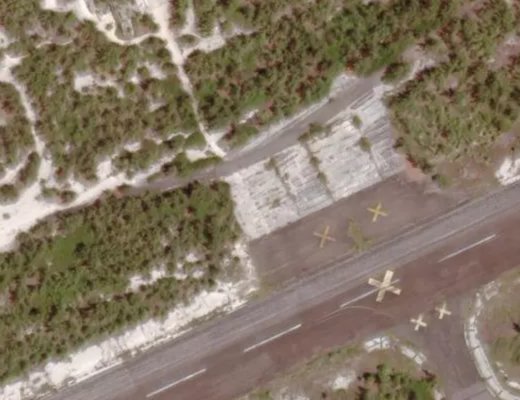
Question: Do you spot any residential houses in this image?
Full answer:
No, the picture doesn't show any residential house.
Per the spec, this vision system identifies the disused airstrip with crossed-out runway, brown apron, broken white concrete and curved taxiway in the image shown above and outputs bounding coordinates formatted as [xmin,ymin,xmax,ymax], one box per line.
[36,89,520,400]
